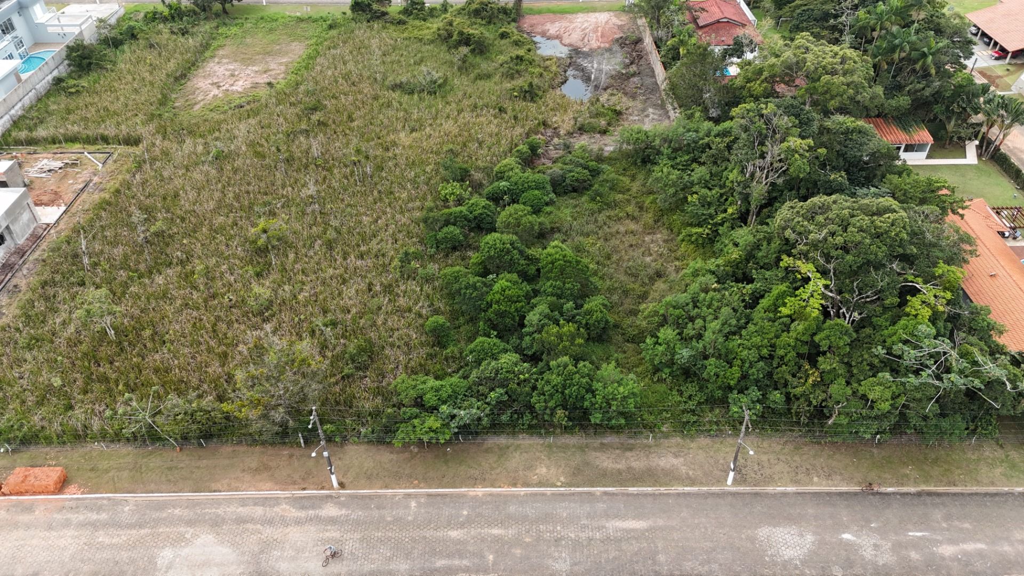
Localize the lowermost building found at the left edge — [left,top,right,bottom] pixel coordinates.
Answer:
[0,187,38,268]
